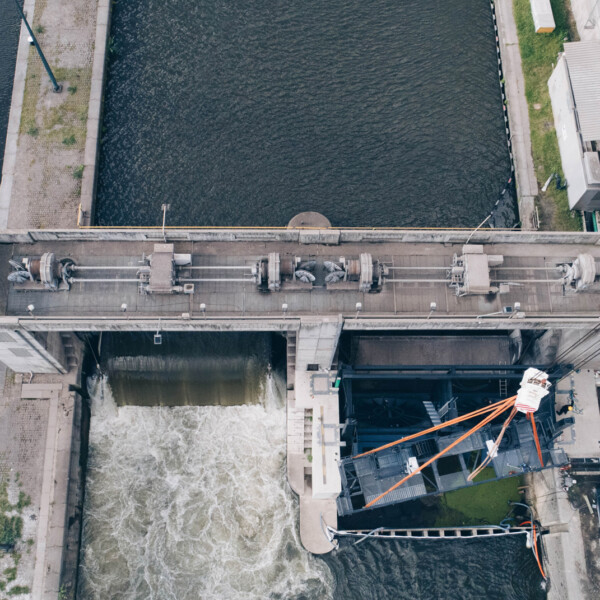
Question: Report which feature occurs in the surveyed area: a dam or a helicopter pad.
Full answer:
I can see a dam in this picture.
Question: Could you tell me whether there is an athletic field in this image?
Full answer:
No, there is no athletic field in the image.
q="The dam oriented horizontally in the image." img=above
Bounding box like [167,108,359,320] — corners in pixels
[95,332,286,407]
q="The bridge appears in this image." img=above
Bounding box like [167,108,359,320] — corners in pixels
[0,225,600,371]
